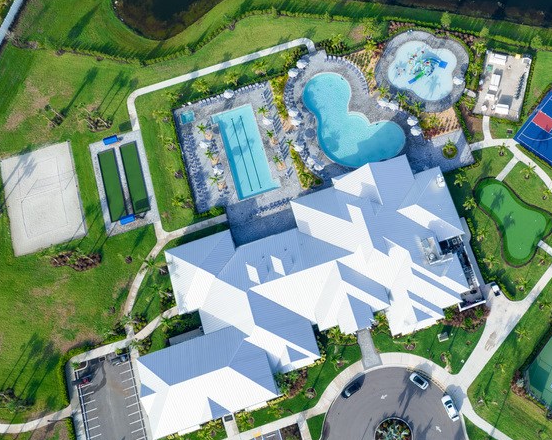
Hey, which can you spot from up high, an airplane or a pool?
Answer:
pool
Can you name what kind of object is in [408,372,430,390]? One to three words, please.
car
